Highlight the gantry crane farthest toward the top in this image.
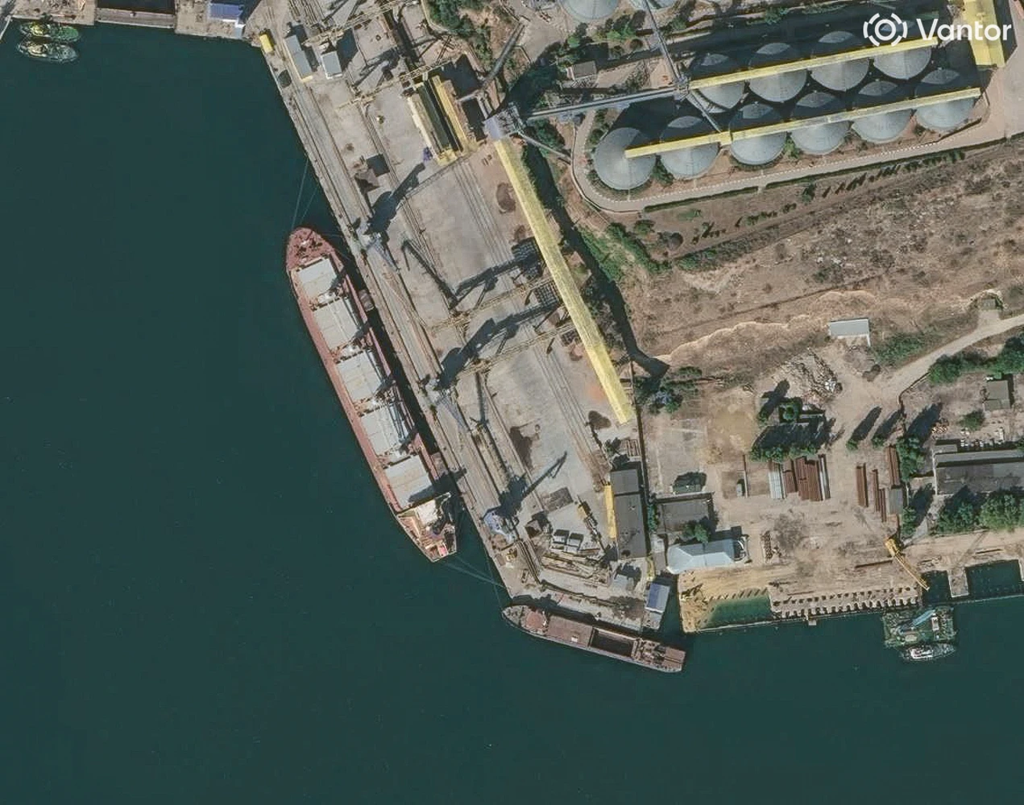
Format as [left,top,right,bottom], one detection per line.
[302,0,421,50]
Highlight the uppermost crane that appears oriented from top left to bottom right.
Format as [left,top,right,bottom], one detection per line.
[350,209,401,273]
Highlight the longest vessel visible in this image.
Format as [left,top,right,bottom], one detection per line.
[287,227,457,562]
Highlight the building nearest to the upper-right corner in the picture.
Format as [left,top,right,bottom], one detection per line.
[964,0,1005,67]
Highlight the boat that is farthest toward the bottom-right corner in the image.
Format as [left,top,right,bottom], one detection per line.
[900,642,957,662]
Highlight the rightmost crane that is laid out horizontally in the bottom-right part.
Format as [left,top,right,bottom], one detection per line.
[884,609,956,646]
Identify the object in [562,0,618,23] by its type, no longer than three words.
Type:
silo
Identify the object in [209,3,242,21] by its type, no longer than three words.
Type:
building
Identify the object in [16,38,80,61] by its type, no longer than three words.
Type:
boat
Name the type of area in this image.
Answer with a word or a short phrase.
port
